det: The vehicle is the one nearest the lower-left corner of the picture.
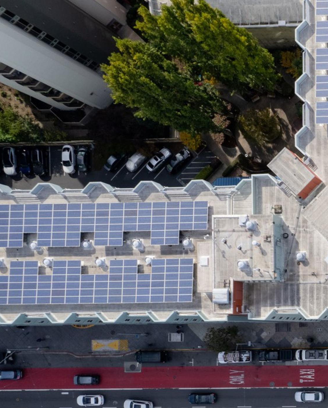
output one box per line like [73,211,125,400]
[0,369,24,382]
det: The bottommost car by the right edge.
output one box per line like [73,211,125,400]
[295,390,325,404]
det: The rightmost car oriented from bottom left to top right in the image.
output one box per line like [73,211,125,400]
[167,149,192,173]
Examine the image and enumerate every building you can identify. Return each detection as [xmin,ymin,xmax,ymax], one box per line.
[0,0,328,331]
[0,0,127,123]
